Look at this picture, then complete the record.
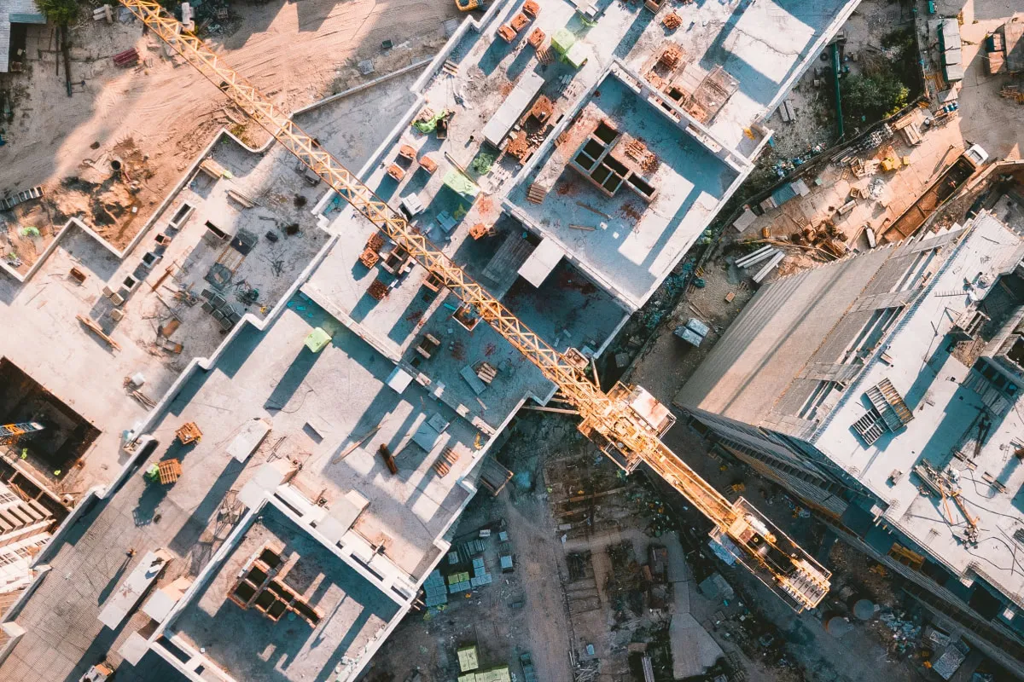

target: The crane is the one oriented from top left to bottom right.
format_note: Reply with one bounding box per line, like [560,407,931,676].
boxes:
[115,0,849,619]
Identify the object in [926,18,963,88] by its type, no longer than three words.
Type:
shed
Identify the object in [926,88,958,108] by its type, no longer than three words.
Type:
shed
